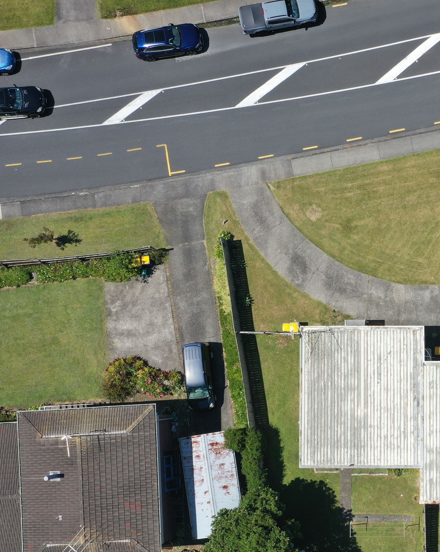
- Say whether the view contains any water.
No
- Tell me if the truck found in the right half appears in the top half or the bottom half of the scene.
top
